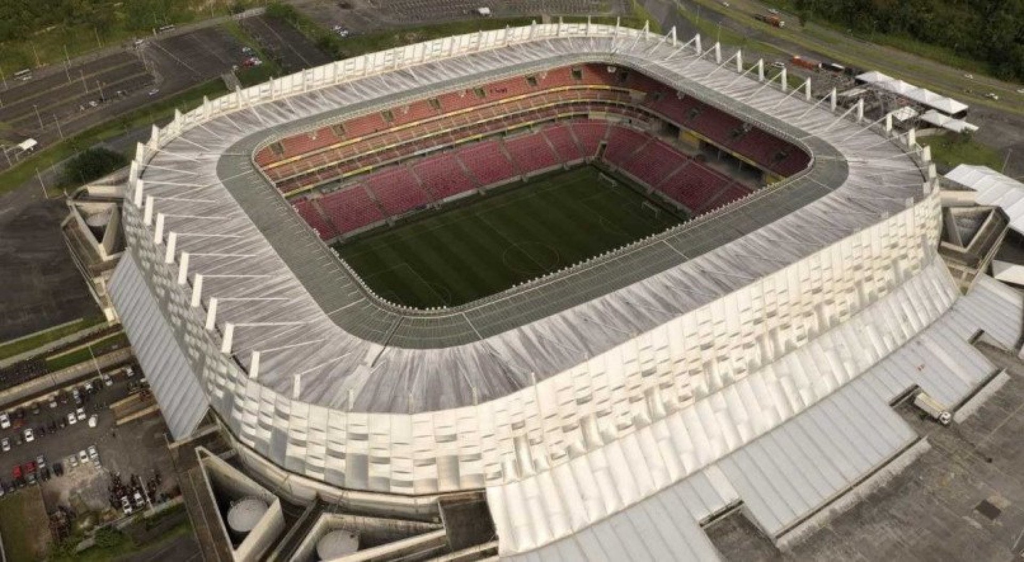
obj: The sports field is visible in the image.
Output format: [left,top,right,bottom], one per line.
[344,169,678,310]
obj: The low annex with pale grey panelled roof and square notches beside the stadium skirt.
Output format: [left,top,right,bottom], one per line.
[479,279,1024,562]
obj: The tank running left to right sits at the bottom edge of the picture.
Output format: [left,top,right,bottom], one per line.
[314,531,365,560]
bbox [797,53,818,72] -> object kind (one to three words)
vehicle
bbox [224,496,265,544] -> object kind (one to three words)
water tank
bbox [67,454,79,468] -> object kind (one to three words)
vehicle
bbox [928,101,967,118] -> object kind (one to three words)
tent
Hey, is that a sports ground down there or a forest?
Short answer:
sports ground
